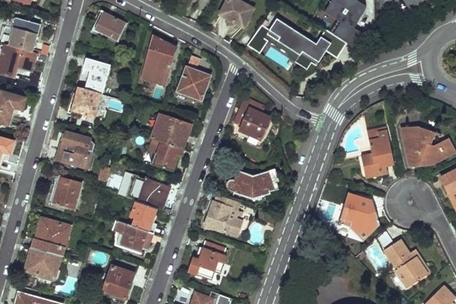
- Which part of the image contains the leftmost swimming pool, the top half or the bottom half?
bottom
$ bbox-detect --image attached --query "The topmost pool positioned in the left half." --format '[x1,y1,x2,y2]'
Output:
[150,84,166,100]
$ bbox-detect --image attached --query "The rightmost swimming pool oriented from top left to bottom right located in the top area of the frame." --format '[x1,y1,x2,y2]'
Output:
[264,45,290,68]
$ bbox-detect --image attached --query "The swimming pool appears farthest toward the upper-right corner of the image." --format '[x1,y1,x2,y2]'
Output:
[346,124,362,152]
